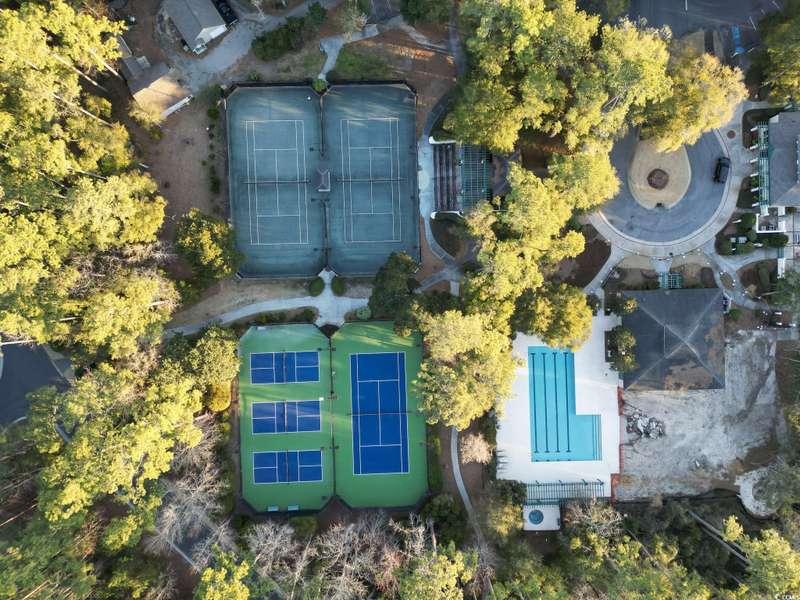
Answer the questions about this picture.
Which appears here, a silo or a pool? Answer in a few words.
pool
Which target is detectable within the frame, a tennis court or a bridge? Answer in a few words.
tennis court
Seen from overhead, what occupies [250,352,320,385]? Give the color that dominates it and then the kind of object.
blue sports court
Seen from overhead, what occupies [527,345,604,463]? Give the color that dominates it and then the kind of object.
blue swimming pool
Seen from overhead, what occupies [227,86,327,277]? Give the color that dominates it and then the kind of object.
blue tennis court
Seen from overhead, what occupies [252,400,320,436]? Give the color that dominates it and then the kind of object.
blue sports court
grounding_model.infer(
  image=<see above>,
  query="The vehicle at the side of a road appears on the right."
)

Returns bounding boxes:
[712,157,730,184]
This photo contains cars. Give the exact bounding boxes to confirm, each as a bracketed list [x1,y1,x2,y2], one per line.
[712,157,730,184]
[215,0,239,25]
